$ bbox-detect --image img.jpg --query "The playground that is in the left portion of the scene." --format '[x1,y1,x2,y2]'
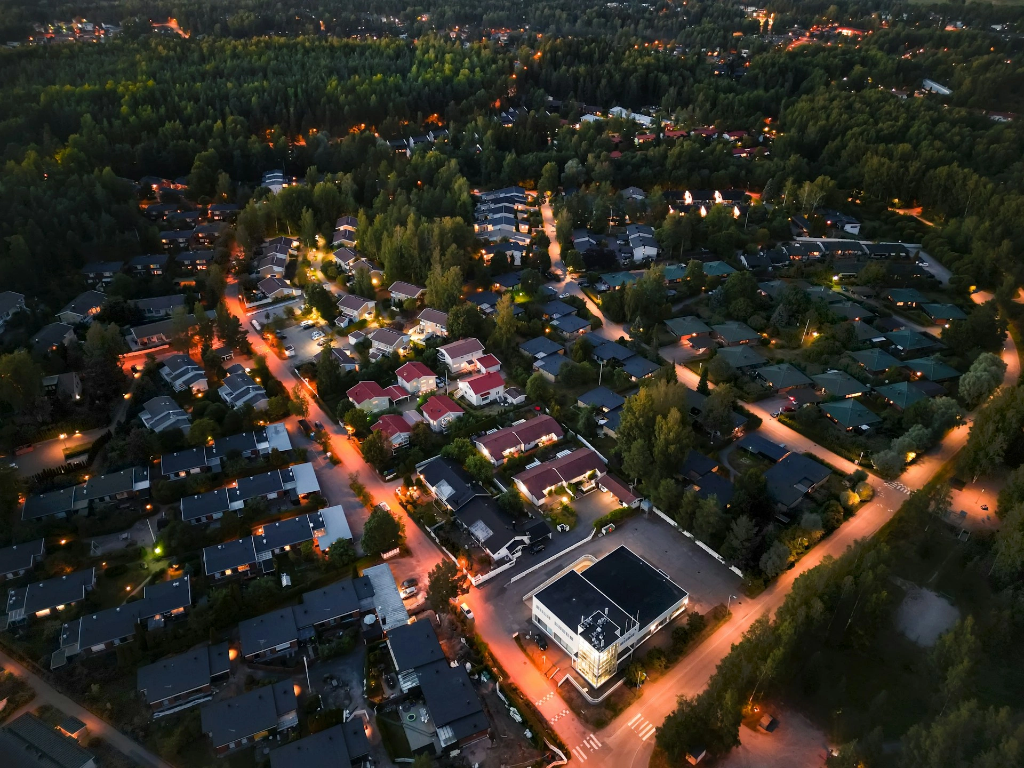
[86,508,164,553]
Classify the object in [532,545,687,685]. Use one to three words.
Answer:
building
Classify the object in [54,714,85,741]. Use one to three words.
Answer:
shed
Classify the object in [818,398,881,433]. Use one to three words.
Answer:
house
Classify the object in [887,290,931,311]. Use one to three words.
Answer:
house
